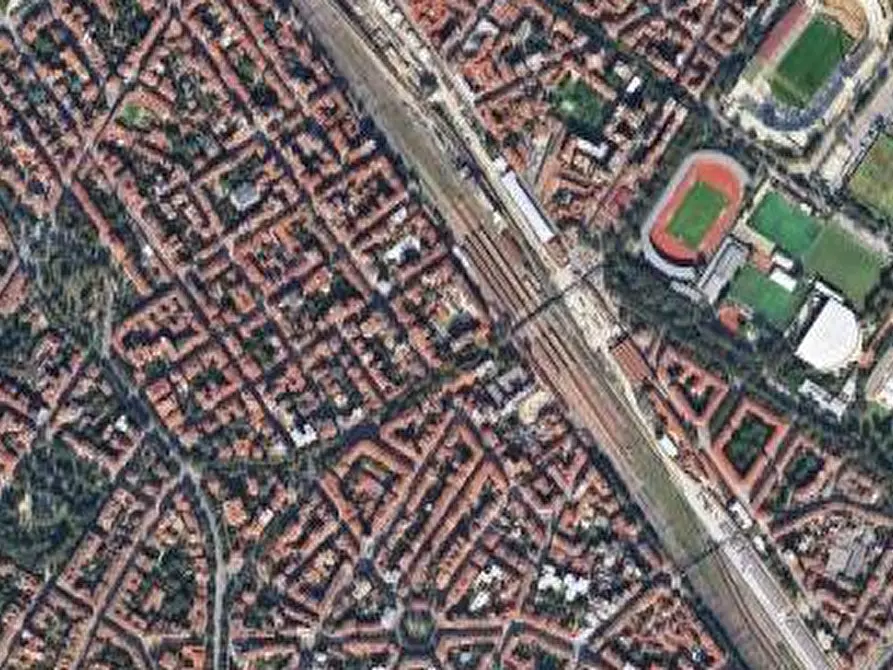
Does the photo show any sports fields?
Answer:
Yes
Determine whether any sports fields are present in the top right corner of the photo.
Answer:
Yes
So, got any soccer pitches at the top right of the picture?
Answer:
Yes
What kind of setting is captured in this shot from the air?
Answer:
residential area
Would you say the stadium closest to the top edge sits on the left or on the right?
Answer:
right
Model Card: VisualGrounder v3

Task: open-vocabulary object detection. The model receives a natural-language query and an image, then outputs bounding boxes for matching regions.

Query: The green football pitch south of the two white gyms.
[726,263,798,325]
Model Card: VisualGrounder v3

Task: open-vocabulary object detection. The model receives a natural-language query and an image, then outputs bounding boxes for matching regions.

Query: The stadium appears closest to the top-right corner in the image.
[749,0,875,132]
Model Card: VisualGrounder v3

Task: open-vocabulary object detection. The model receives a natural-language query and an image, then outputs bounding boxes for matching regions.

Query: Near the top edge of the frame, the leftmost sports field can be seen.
[774,19,843,99]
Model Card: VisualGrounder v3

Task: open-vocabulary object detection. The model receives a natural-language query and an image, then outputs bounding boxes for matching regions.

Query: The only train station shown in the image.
[449,170,576,366]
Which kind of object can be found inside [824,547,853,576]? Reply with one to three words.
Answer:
building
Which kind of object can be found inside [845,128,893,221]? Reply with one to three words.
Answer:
soccer field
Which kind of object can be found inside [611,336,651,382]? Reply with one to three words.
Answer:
shed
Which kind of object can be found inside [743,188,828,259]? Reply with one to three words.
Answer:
soccer field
